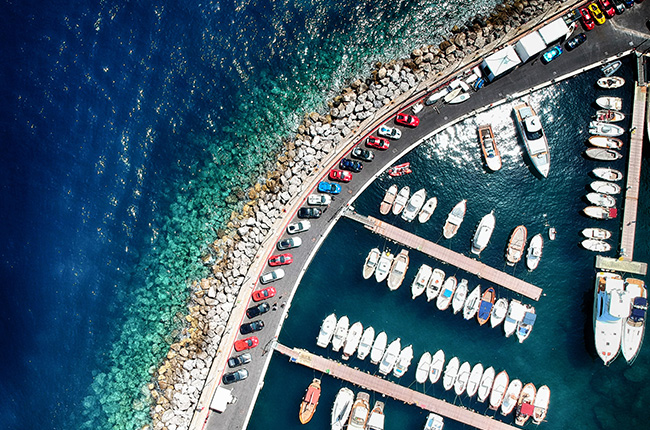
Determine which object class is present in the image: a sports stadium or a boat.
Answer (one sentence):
This aerial view contains a boat.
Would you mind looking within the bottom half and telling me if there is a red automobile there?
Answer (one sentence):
Yes, I can see a red automobile within the bottom half.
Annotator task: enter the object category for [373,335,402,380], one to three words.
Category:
boat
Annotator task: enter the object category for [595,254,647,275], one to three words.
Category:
pier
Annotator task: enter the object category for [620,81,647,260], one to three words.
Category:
pier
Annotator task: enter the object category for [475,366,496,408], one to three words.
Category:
boat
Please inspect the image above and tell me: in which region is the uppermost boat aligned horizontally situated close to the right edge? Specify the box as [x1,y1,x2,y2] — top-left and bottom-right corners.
[596,76,625,89]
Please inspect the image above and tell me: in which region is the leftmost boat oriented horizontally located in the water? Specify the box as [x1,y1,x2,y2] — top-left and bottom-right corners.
[388,163,413,177]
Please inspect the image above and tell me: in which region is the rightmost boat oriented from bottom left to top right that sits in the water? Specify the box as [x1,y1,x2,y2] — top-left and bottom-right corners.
[600,60,621,77]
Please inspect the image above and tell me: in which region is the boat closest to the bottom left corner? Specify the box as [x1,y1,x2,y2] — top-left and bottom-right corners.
[300,375,323,425]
